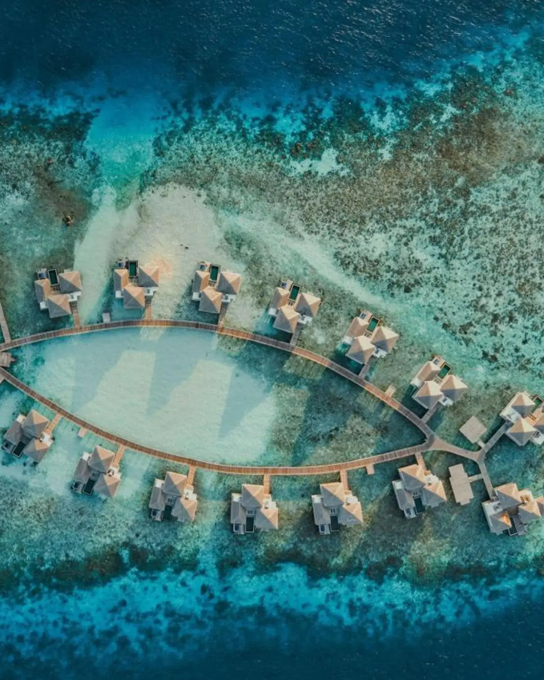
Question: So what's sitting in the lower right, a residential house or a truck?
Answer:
residential house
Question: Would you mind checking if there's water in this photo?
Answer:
Yes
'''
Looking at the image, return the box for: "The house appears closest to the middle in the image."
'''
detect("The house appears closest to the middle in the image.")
[265,281,320,333]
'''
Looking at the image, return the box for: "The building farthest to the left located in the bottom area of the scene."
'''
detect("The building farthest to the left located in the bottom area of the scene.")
[5,406,56,463]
